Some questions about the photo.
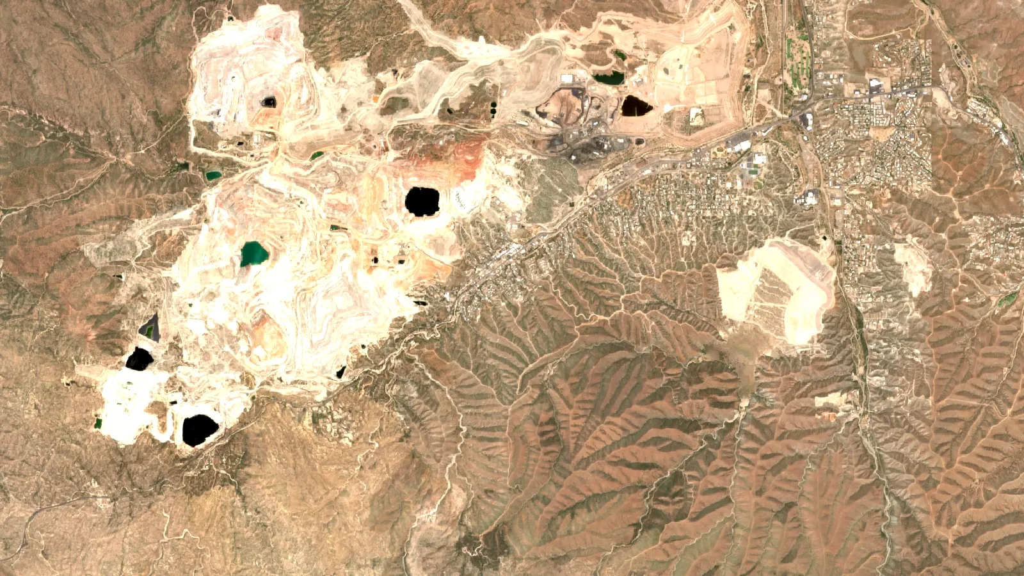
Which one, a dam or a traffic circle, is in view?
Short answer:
dam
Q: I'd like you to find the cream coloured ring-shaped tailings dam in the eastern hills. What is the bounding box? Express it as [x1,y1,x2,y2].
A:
[718,241,836,346]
